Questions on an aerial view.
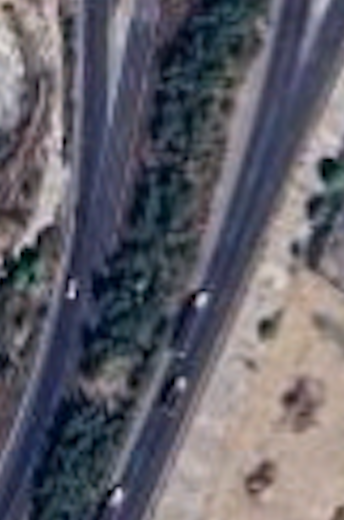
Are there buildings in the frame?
No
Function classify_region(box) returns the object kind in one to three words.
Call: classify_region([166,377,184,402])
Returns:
vehicle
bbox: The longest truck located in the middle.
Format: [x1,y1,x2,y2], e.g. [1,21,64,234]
[181,294,204,331]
